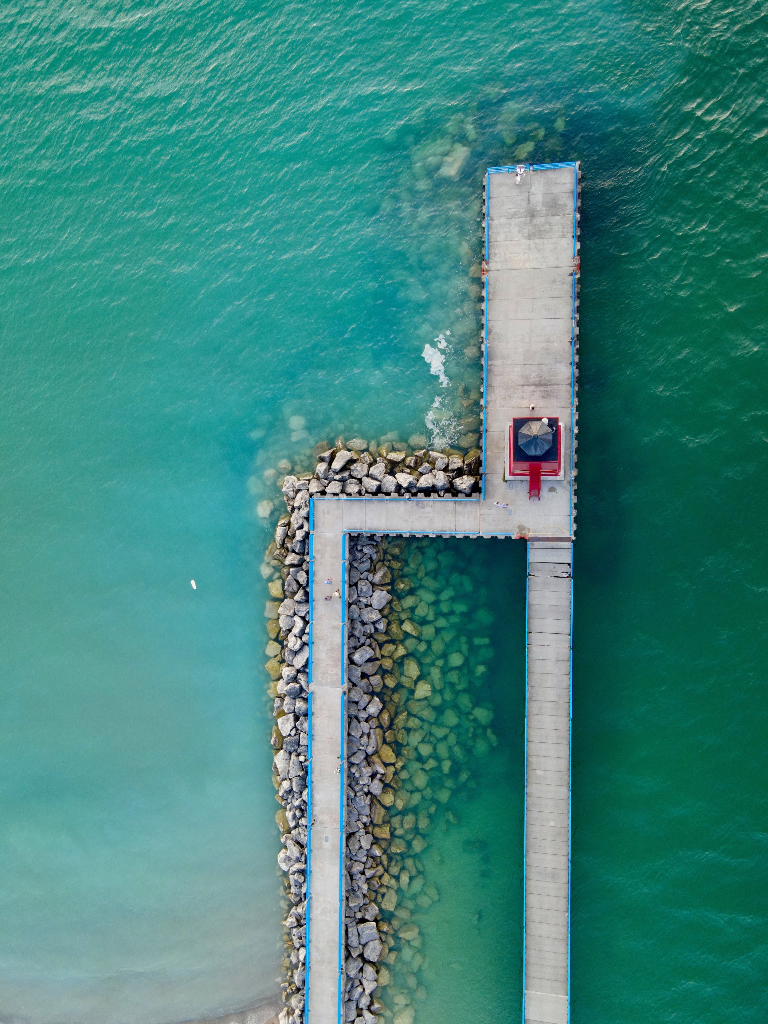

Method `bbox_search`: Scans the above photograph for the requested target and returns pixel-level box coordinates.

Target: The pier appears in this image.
[479,162,580,540]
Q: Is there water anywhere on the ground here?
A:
Yes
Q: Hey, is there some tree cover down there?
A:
No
